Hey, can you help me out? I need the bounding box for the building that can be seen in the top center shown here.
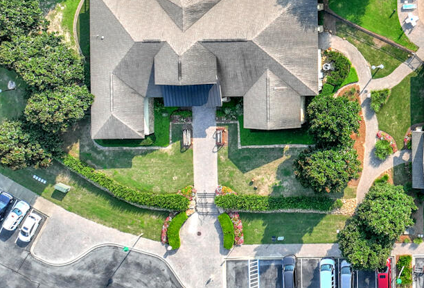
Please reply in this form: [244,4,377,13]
[91,0,321,140]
